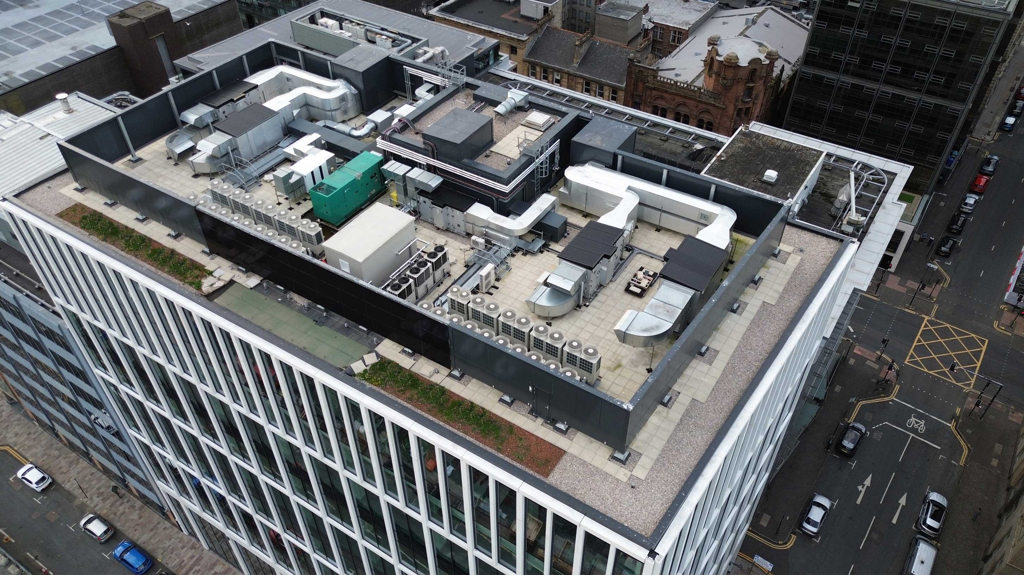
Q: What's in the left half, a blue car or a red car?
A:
blue car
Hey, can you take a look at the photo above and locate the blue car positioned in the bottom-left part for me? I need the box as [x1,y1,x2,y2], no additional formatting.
[109,537,153,575]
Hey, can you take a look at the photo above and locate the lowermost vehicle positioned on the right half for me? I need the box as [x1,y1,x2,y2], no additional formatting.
[900,537,936,575]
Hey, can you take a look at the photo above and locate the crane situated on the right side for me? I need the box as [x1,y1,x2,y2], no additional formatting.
[820,172,862,239]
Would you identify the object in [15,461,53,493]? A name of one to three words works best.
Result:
car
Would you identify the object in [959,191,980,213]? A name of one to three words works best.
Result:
car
